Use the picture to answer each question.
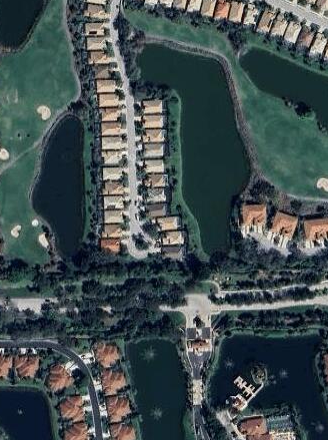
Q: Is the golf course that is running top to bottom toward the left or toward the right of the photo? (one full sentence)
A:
The golf course that is running top to bottom sits on the left side.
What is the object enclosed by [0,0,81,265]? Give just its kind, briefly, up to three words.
golf course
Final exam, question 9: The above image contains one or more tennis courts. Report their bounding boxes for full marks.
[266,417,294,434]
